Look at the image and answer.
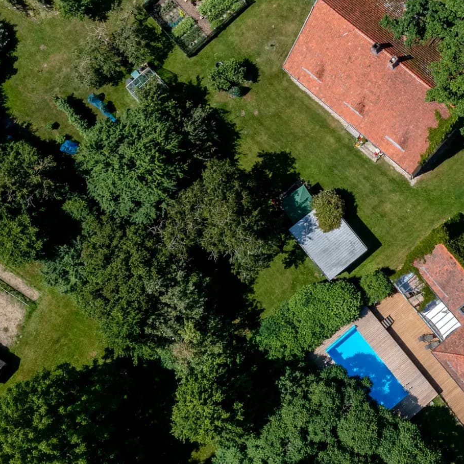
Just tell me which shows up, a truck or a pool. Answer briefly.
pool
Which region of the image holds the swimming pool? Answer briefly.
bottom right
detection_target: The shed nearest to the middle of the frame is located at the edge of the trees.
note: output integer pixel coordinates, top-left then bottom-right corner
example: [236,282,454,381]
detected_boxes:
[289,202,367,276]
